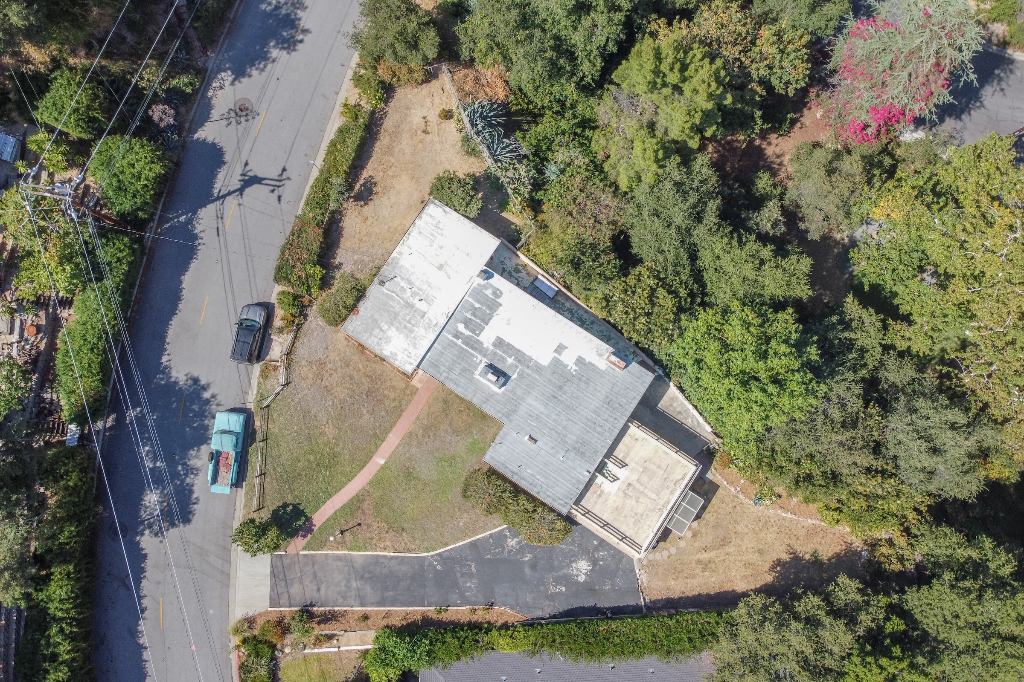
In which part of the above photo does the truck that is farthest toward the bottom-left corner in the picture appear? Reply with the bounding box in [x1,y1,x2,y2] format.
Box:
[208,408,250,493]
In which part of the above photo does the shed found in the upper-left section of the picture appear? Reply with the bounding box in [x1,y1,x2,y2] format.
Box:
[0,128,30,163]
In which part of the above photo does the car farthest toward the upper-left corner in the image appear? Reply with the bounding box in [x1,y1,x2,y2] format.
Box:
[230,304,271,366]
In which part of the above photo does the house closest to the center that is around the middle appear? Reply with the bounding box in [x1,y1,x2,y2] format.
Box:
[341,197,704,565]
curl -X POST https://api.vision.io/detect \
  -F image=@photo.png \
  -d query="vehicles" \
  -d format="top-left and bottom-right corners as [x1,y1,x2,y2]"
[208,408,250,493]
[230,304,271,366]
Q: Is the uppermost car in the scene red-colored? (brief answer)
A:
No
